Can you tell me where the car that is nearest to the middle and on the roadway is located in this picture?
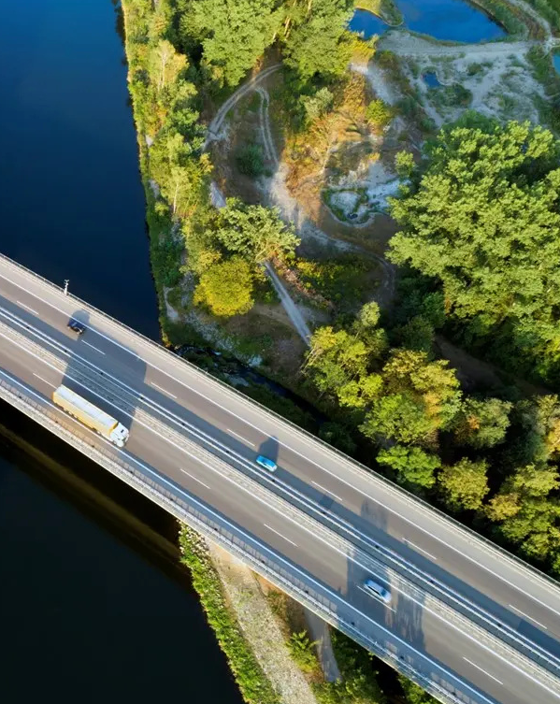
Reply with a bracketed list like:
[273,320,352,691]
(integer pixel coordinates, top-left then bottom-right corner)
[253,454,276,473]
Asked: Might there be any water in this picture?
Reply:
Yes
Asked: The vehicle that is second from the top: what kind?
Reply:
truck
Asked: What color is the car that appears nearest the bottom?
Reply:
blue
